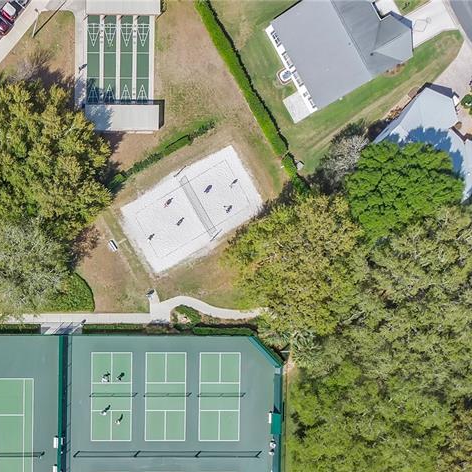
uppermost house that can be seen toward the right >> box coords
[266,0,414,112]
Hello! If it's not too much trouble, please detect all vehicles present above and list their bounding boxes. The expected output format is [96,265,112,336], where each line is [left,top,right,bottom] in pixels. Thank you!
[14,0,29,13]
[1,5,17,24]
[0,17,10,36]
